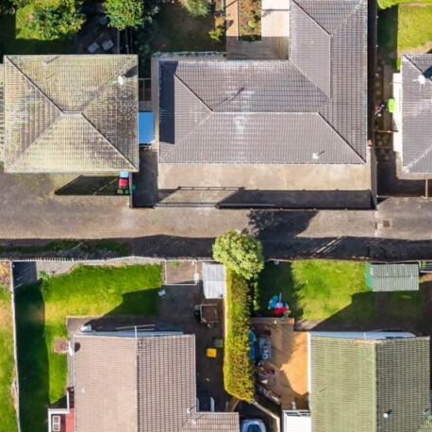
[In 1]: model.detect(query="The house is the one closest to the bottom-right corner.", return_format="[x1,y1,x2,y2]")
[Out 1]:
[304,330,432,432]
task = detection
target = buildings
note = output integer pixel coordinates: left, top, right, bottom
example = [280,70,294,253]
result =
[156,0,369,166]
[0,52,140,175]
[361,263,421,291]
[391,52,432,176]
[71,327,241,432]
[199,260,226,298]
[304,330,432,432]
